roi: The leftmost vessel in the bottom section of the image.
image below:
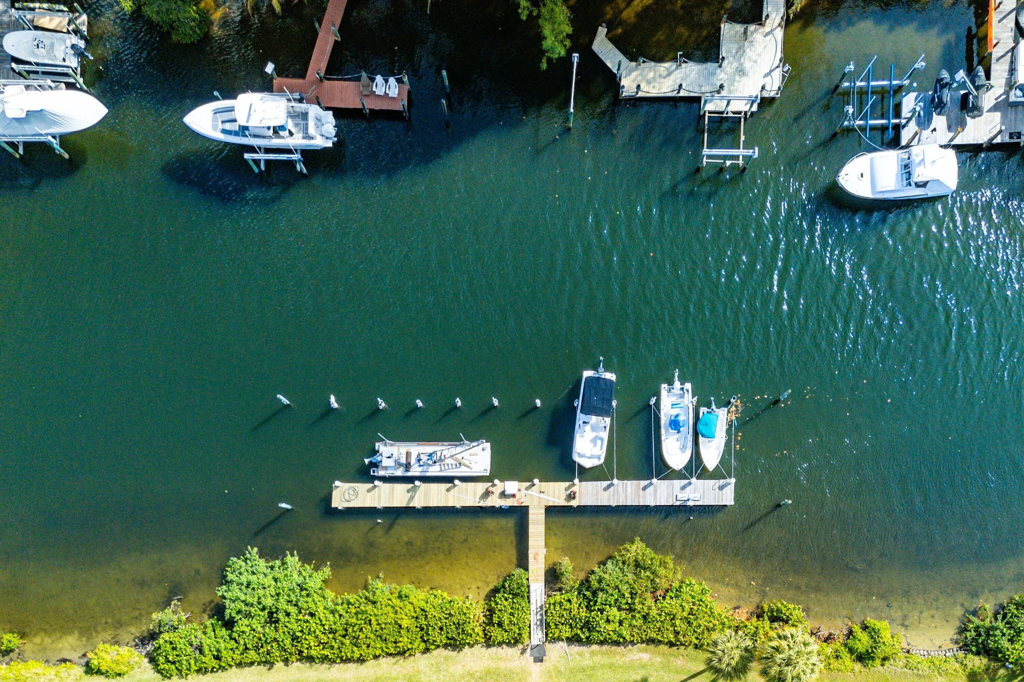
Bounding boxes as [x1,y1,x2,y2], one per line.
[363,432,491,477]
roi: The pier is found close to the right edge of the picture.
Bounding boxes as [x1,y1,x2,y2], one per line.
[895,0,1024,153]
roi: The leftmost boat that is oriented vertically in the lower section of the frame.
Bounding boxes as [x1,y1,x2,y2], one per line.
[574,356,617,468]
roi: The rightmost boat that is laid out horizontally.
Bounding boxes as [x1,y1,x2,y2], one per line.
[832,143,963,200]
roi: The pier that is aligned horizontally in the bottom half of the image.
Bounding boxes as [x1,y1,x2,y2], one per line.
[332,477,737,646]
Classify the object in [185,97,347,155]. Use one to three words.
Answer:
boat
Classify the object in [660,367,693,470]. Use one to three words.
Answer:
boat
